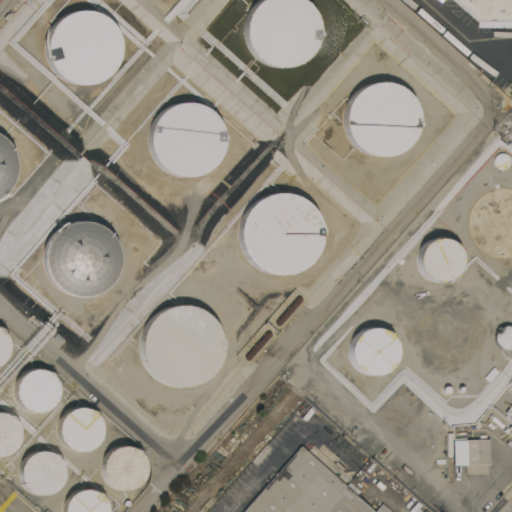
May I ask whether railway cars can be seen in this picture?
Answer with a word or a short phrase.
Yes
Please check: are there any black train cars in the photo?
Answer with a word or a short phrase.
No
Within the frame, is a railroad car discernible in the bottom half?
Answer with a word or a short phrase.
No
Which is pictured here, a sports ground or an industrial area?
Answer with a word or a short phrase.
industrial area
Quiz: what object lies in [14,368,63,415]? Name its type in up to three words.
storage tank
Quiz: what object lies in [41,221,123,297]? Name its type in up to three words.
storage tank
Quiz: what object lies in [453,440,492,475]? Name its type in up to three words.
shed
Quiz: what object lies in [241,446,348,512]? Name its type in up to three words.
building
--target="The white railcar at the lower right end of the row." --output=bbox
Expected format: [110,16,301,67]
[468,54,498,79]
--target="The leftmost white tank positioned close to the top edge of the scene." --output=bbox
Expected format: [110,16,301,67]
[43,10,125,88]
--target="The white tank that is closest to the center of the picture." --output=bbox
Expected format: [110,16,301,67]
[239,194,326,276]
